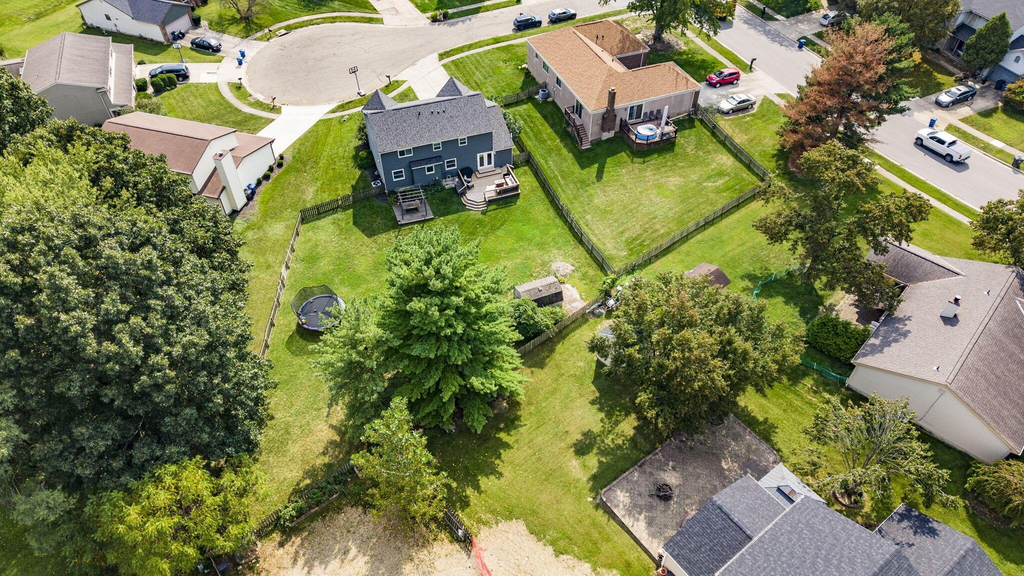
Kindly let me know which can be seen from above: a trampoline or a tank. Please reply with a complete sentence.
Of the two, only a trampoline appears.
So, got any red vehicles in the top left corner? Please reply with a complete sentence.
No, no red vehicle can be made out in the top left corner.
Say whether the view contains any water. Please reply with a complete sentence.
No, water can't be seen anywhere here.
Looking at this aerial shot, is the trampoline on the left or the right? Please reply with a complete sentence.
It is on the left.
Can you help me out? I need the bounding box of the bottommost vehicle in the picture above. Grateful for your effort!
[914,129,973,164]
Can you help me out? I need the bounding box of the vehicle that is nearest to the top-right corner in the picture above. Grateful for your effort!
[937,84,979,105]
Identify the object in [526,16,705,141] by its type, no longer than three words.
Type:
house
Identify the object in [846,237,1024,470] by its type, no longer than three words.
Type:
house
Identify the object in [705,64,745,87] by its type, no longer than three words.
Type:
car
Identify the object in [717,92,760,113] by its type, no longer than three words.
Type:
car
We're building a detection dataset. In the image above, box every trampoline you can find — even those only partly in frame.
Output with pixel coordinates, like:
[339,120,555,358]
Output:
[294,279,347,331]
